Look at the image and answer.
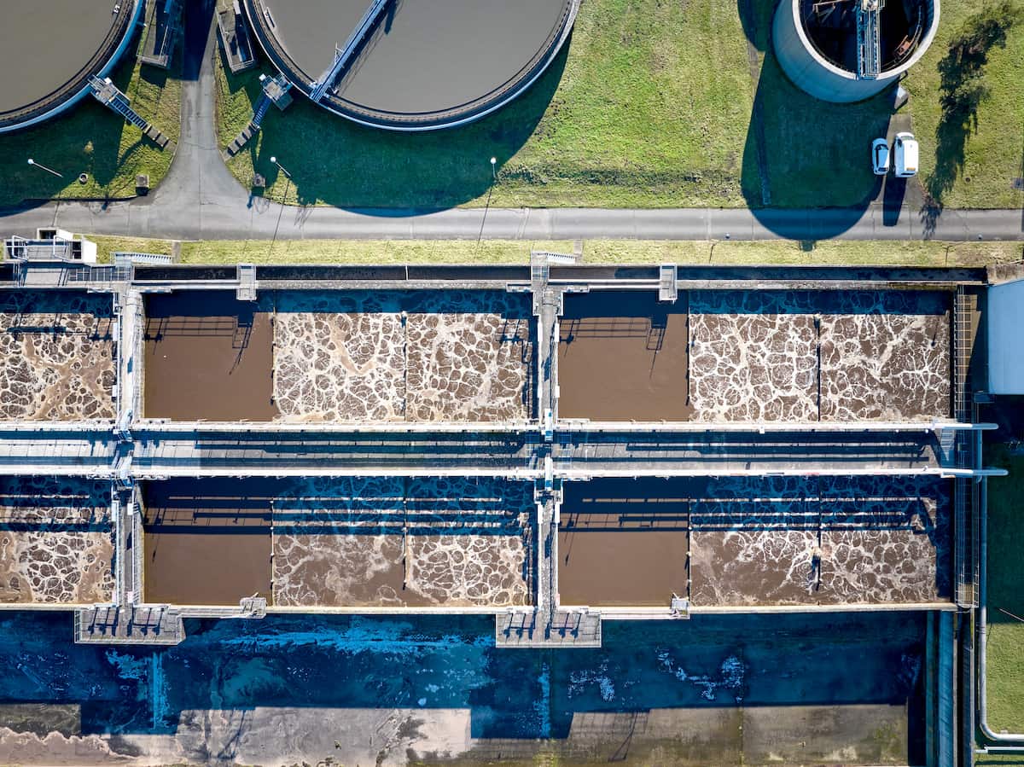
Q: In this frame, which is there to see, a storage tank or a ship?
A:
storage tank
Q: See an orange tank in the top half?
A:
No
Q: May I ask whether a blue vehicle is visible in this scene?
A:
Yes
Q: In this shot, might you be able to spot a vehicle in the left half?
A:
No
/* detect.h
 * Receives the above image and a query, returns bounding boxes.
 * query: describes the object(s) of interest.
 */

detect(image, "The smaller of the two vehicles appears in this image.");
[873,138,895,173]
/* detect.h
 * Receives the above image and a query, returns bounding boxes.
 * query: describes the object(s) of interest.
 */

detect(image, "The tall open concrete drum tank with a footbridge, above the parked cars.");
[772,0,940,102]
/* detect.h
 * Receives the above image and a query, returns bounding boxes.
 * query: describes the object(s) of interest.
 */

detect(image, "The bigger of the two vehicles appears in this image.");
[896,132,922,176]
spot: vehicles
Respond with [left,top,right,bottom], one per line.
[896,132,922,176]
[873,138,895,173]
